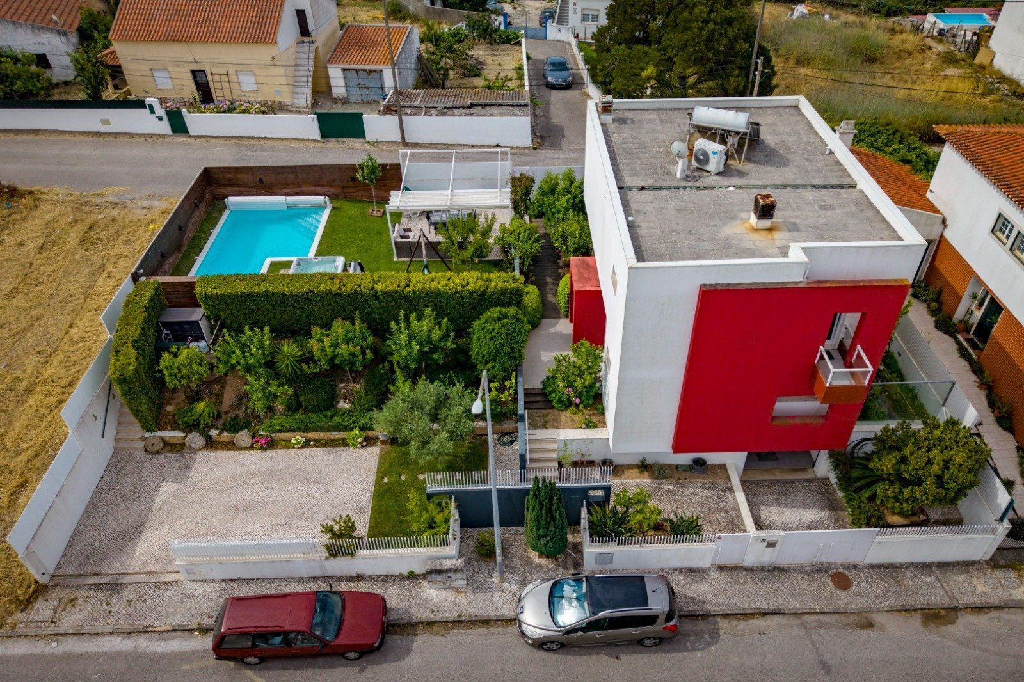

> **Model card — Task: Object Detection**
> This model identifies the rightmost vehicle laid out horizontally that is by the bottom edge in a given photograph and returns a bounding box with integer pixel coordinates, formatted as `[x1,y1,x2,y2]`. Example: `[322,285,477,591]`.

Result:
[517,574,682,656]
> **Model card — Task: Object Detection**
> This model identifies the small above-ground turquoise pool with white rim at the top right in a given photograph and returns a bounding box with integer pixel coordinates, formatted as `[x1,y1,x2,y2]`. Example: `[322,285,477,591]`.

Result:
[924,12,993,42]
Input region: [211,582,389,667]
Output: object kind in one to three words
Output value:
car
